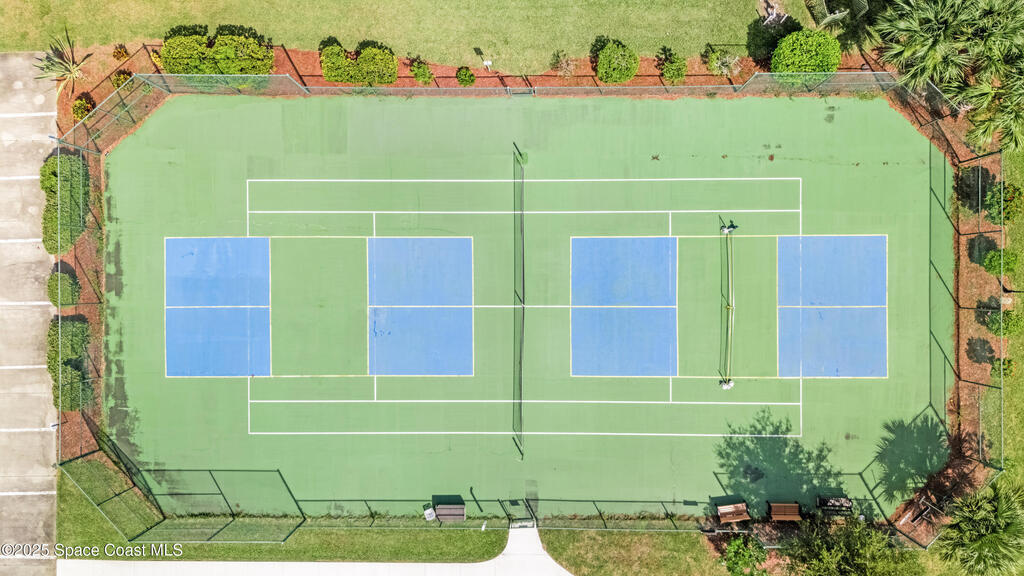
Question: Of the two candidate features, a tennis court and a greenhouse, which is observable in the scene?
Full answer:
The image shows a tennis court.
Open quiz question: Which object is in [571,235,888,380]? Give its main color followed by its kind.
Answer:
blue sports court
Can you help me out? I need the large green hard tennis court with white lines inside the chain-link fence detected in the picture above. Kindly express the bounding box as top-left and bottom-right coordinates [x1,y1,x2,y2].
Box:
[103,93,955,521]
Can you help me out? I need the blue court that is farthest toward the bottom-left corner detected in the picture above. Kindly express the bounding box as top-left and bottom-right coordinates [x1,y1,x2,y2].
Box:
[165,235,473,378]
